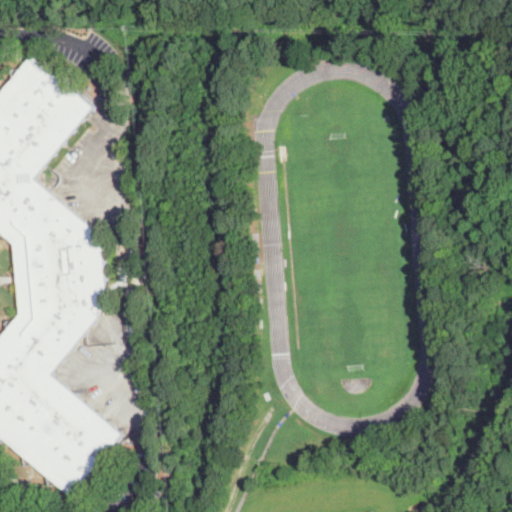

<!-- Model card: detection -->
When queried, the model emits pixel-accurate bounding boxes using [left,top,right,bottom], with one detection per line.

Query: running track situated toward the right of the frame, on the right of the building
[251,58,438,436]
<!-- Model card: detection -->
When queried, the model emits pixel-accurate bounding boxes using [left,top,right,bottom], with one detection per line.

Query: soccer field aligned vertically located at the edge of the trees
[275,80,420,418]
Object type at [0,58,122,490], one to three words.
building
